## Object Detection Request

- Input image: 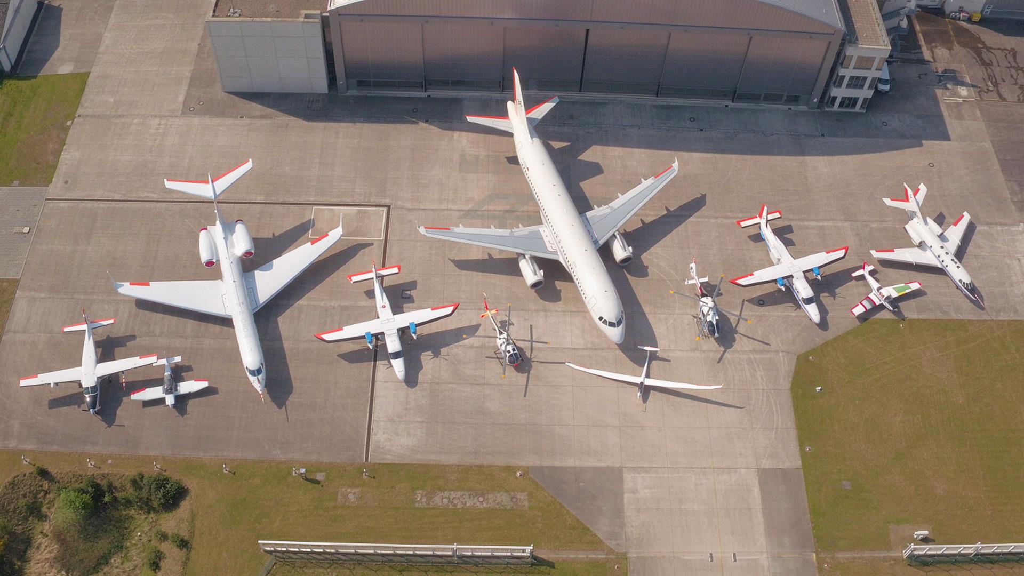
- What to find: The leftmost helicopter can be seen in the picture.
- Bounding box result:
[466,295,551,377]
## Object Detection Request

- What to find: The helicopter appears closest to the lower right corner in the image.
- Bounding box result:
[670,256,751,339]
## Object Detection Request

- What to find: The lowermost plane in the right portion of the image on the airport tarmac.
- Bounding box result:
[566,345,721,402]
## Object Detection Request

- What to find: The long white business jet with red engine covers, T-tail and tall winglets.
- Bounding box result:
[105,162,340,403]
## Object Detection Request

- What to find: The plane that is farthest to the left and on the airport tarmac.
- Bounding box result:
[18,306,158,417]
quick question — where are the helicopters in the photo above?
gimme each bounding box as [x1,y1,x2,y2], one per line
[670,256,751,339]
[466,295,551,377]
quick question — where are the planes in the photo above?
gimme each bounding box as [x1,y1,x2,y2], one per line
[566,345,721,402]
[850,262,922,315]
[18,306,158,417]
[130,355,208,408]
[314,257,459,382]
[725,199,850,324]
[866,183,983,311]
[422,66,680,345]
[105,162,340,403]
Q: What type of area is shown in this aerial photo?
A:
airport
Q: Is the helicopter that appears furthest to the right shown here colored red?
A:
No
